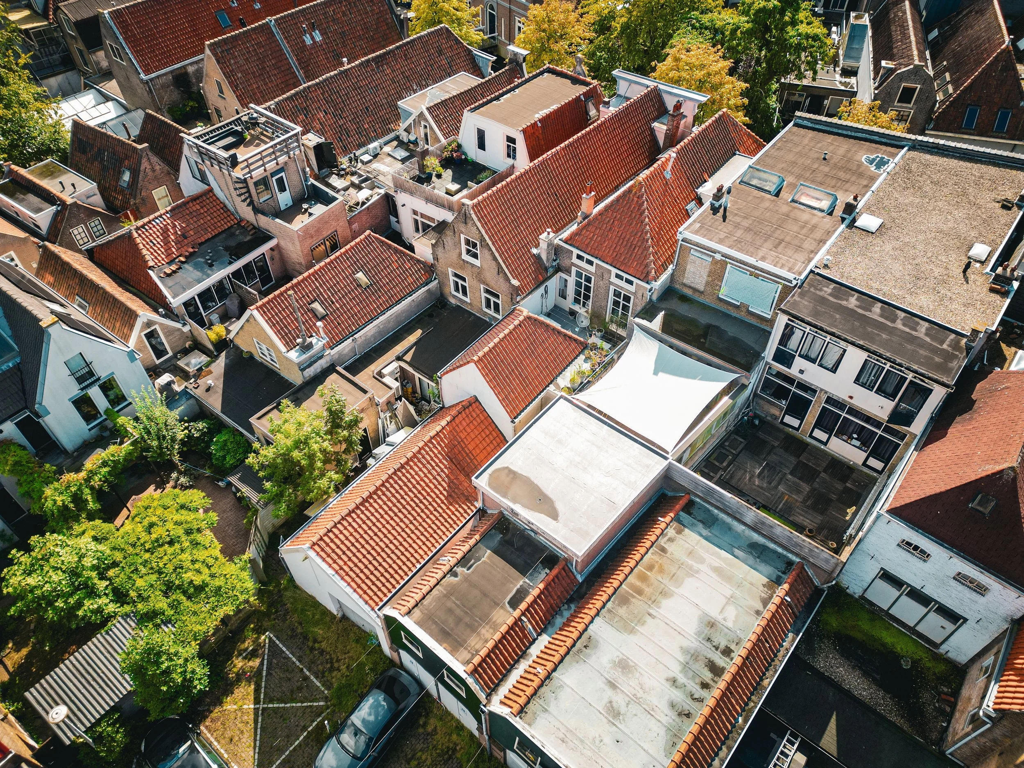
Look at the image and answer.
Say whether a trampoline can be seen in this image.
No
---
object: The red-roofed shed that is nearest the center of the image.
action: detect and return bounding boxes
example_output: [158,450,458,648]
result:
[432,307,583,443]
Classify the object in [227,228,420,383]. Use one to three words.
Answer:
house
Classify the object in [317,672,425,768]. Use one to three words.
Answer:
car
